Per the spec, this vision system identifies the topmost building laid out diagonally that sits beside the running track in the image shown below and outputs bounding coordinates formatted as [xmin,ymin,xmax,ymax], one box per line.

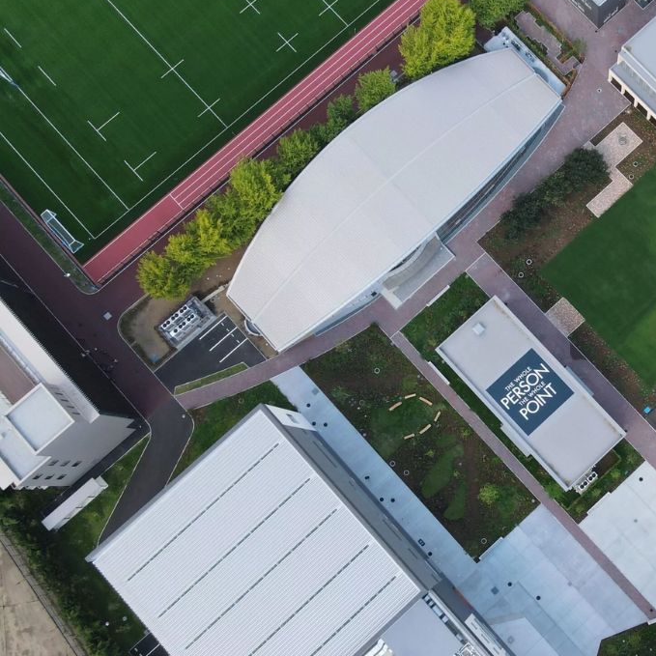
[225,26,571,352]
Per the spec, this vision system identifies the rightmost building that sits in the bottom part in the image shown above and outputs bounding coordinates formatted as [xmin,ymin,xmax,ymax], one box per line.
[436,297,627,491]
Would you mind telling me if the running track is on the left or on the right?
left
